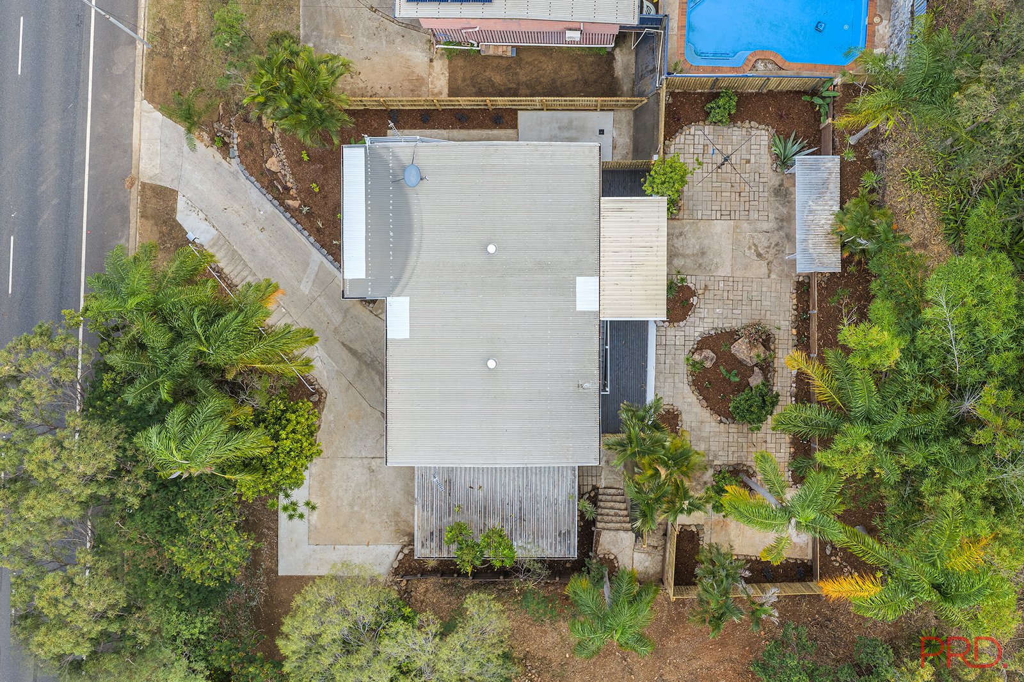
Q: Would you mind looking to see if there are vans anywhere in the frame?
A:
No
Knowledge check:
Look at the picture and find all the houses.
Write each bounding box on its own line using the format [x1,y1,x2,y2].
[395,0,642,48]
[340,135,603,468]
